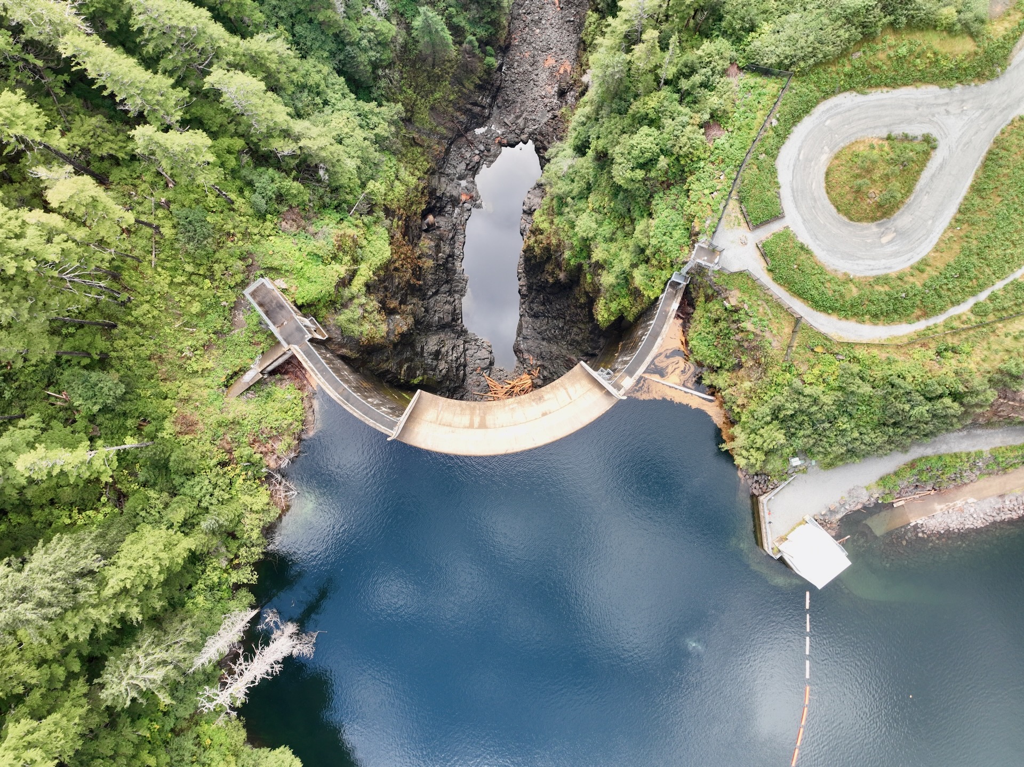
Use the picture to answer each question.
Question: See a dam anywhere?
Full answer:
Yes, I can see a dam in this picture.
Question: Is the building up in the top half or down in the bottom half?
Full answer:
You can find the building in the bottom half.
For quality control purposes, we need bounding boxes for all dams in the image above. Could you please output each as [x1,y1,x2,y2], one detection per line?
[223,268,689,456]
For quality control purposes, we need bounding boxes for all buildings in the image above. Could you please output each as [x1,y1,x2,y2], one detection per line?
[768,517,853,590]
